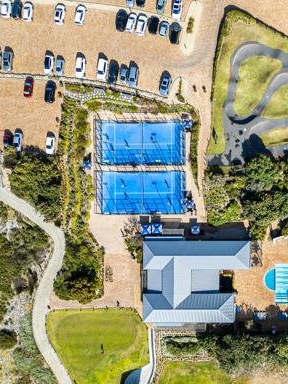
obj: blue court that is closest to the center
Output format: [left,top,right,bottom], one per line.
[95,169,185,214]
